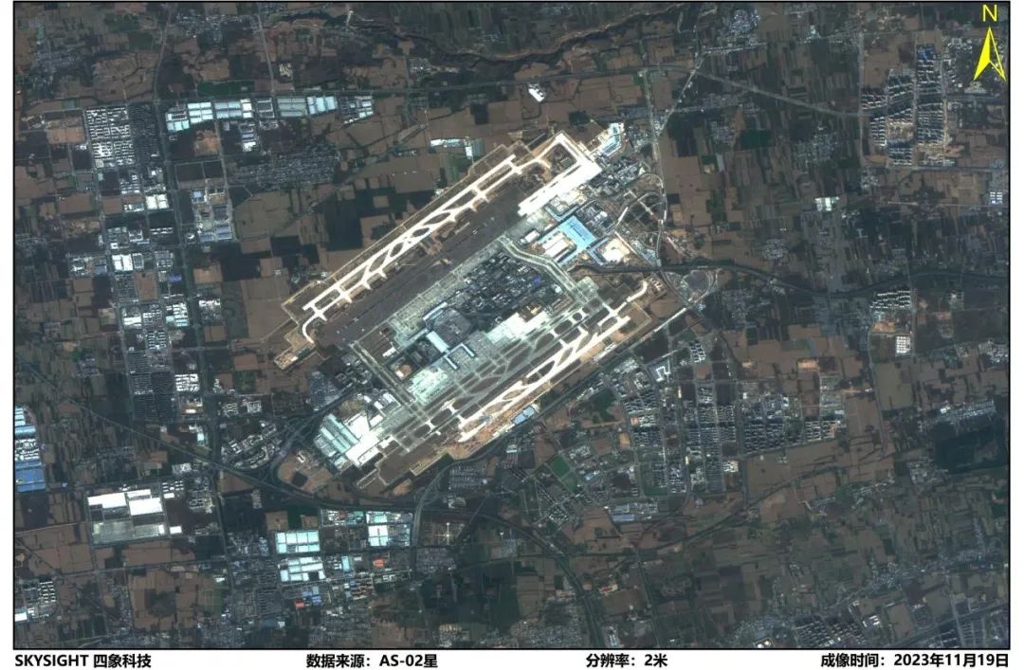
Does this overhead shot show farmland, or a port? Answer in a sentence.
This image shows farmland.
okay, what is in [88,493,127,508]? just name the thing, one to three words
building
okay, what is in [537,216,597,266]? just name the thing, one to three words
building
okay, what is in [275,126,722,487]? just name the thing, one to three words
airport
